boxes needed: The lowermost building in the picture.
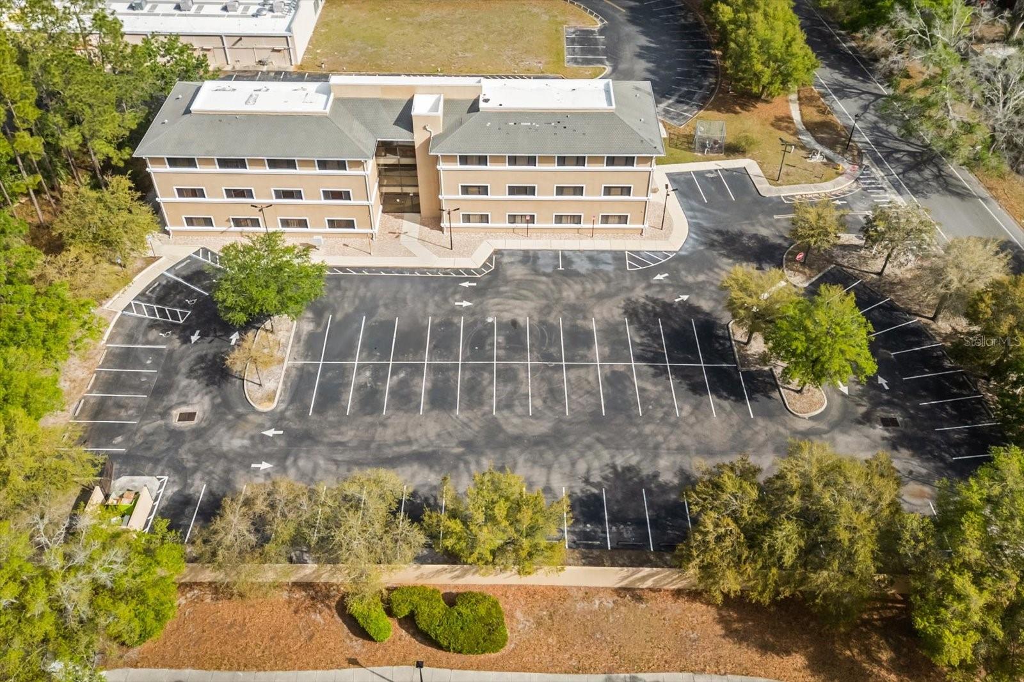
[131,73,663,243]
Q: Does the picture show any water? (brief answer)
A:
No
